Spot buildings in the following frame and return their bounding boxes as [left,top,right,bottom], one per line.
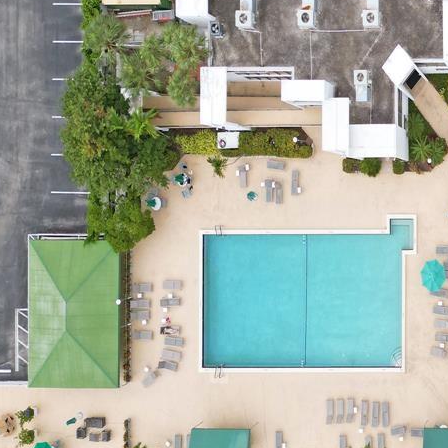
[28,231,132,388]
[176,0,448,160]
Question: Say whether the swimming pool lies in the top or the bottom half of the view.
bottom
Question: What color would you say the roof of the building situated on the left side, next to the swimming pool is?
green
